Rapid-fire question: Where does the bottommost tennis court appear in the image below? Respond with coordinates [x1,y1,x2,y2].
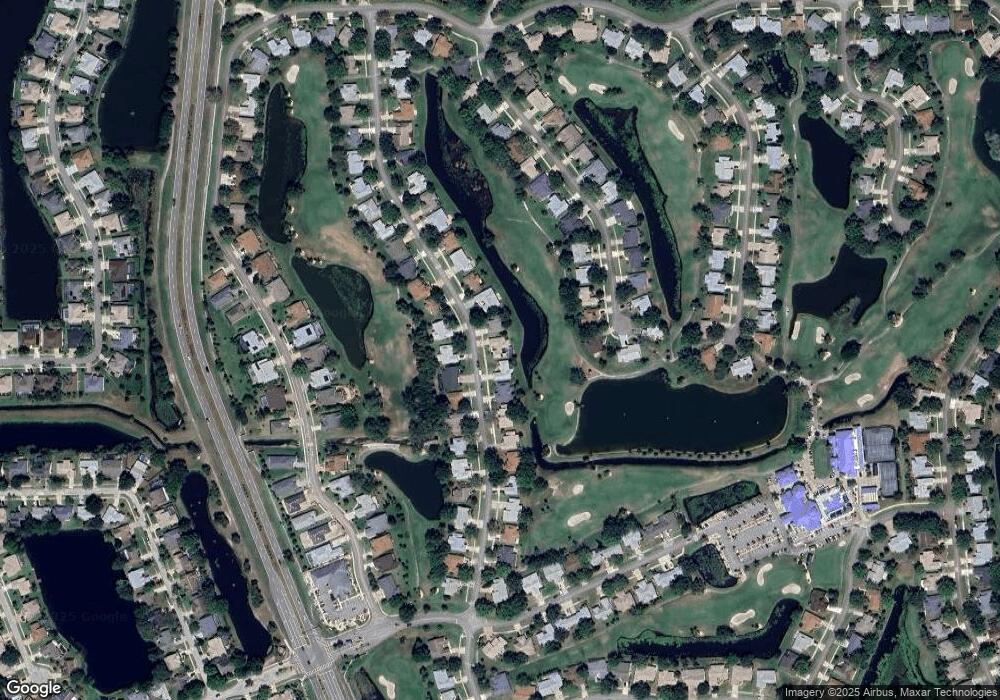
[879,463,899,497]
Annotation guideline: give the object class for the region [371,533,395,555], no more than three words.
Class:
house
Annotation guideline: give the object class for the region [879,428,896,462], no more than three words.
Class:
tennis court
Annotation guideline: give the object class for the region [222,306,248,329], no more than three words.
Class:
house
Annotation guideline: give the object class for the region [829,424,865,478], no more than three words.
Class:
building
